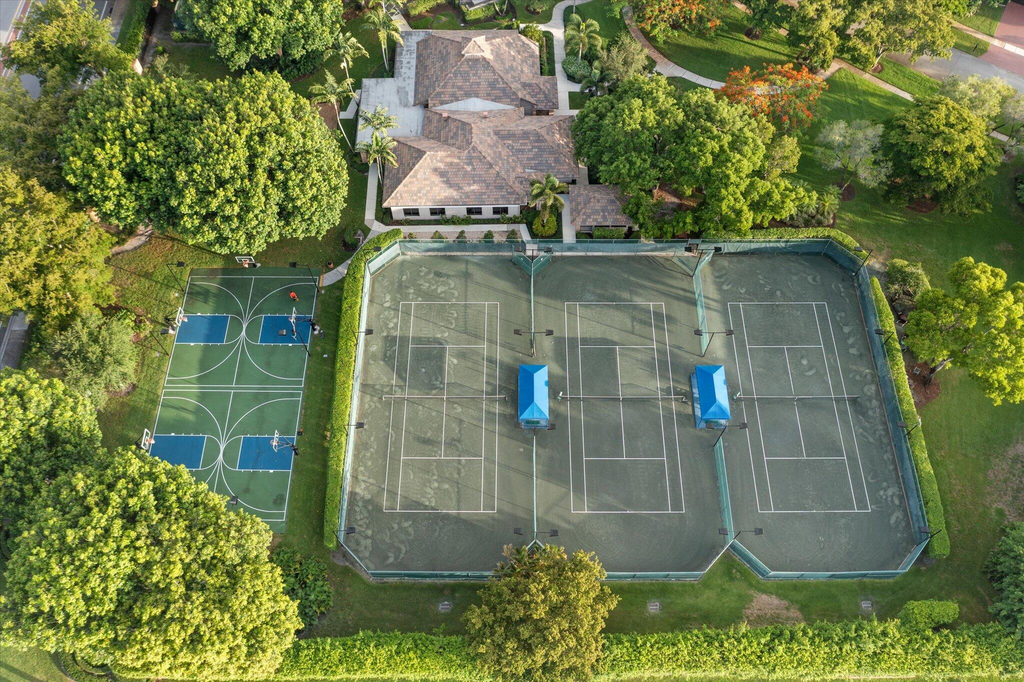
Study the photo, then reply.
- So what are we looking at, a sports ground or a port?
sports ground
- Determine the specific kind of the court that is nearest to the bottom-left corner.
basketball court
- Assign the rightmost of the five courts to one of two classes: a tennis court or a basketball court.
tennis court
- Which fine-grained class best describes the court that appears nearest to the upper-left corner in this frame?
basketball court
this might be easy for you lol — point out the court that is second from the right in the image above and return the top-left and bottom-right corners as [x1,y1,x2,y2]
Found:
[531,255,731,579]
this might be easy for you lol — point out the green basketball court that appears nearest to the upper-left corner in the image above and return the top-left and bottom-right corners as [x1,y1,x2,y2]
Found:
[162,268,321,388]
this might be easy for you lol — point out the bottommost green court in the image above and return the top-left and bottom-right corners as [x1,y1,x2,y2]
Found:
[141,388,305,534]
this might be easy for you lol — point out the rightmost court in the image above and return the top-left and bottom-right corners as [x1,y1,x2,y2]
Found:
[691,255,916,578]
